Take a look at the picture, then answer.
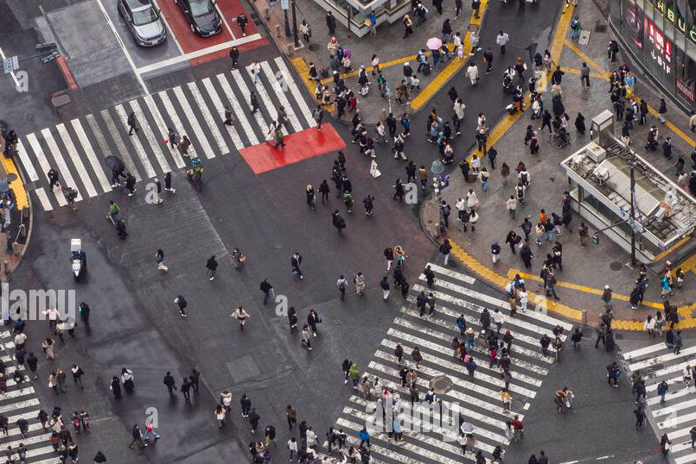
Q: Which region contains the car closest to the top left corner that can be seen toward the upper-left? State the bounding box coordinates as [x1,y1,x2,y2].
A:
[110,0,169,45]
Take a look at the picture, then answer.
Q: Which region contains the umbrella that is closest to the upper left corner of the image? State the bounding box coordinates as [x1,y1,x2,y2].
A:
[103,155,124,179]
